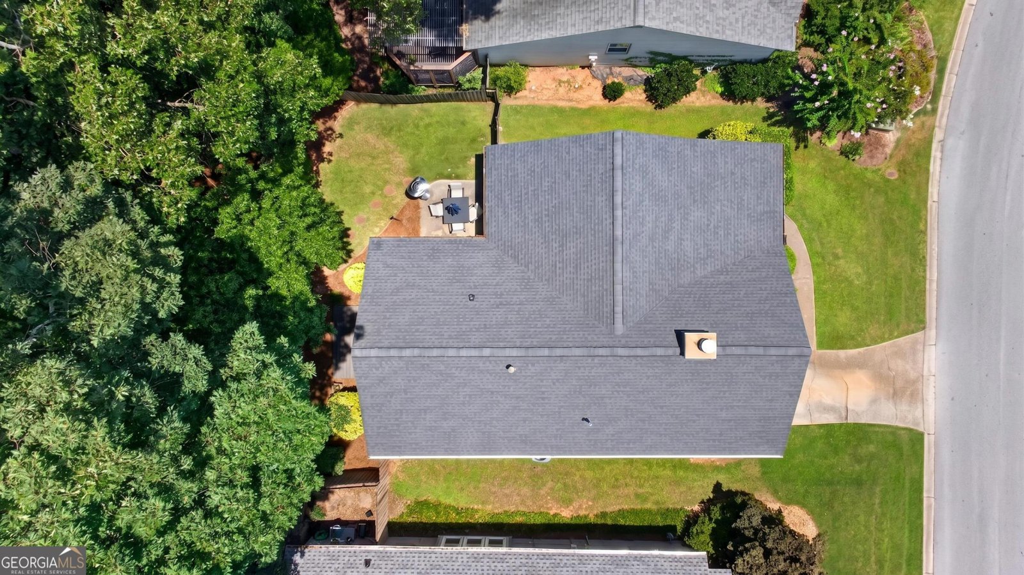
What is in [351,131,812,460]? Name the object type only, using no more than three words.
house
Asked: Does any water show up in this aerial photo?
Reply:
No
